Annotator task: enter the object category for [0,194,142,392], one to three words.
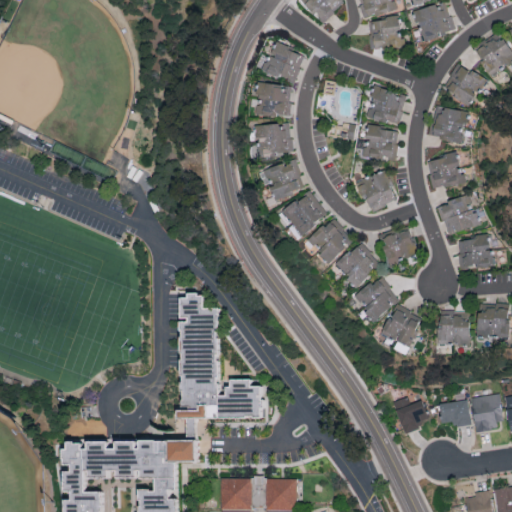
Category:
sports field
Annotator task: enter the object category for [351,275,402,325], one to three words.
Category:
house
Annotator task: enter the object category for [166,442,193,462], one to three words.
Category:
building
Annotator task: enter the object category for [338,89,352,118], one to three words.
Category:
swimming pool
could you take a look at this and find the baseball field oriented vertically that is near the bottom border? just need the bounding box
[0,411,44,512]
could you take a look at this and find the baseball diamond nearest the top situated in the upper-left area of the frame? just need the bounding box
[0,0,134,162]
